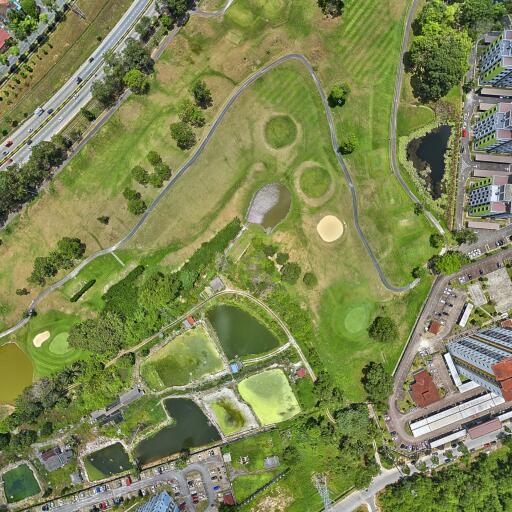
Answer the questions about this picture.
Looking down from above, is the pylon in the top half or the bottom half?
bottom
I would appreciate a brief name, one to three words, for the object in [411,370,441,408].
house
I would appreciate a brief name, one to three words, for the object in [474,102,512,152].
building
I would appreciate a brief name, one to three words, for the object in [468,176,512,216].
building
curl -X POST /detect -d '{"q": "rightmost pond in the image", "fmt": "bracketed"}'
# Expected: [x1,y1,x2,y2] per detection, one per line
[408,124,452,198]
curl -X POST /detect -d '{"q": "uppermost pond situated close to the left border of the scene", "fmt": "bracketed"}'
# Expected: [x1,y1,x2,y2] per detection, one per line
[0,342,34,404]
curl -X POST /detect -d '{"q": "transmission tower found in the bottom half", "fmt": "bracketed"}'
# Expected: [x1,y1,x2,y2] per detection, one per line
[312,468,334,512]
